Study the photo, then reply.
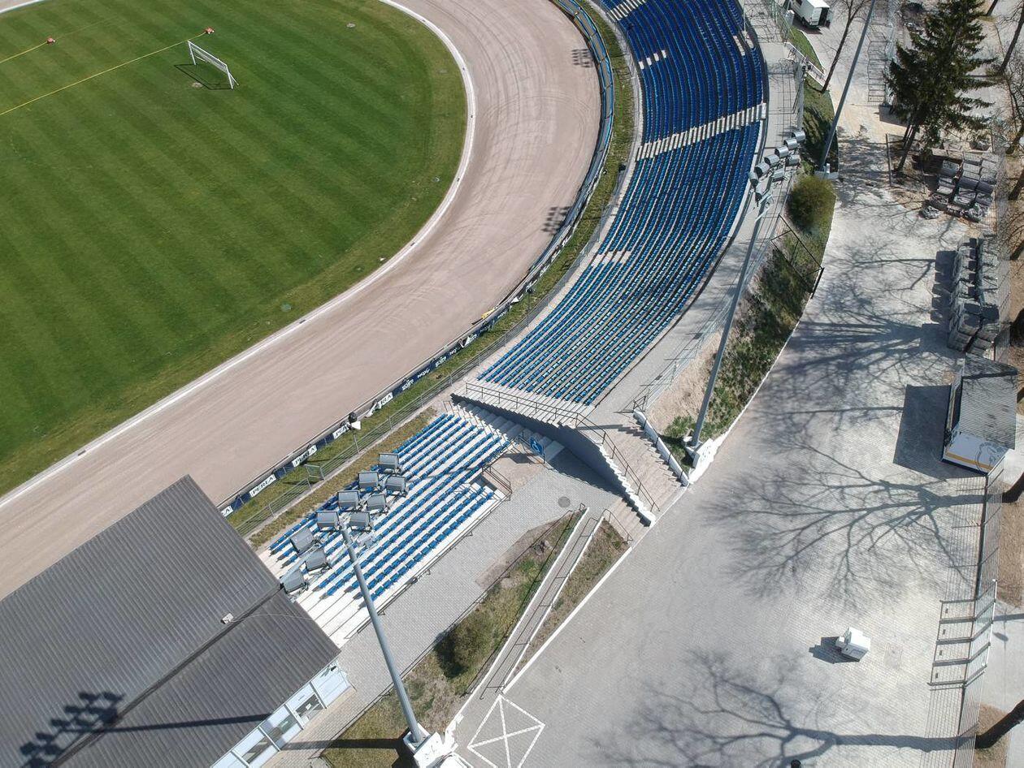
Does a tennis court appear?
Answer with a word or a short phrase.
No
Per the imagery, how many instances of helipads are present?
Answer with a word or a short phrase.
zero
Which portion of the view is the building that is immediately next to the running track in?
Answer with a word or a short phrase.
bottom left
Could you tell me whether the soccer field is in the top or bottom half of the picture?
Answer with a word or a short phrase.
top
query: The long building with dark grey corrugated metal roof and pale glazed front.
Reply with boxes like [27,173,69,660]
[0,476,359,768]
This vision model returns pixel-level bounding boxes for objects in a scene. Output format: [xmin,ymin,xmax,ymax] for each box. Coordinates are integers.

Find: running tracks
[0,0,600,602]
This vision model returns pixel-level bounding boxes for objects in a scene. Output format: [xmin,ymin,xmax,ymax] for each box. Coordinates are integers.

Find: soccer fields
[0,0,469,509]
